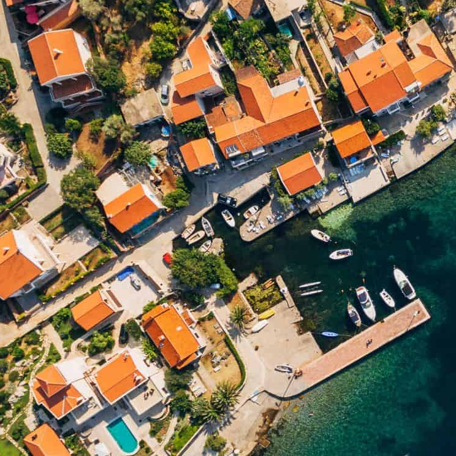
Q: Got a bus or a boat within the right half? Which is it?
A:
boat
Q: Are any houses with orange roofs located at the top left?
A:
Yes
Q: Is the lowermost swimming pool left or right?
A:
left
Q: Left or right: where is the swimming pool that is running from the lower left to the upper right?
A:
left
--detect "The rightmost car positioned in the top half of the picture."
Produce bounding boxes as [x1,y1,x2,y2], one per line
[401,99,415,111]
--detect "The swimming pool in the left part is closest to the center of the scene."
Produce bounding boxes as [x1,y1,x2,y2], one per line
[129,212,164,240]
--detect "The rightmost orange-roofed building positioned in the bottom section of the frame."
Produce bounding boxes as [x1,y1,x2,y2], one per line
[141,302,208,369]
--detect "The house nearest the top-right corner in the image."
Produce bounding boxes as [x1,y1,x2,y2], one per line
[407,18,451,91]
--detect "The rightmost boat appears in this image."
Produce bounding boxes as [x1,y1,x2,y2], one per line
[394,269,416,300]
